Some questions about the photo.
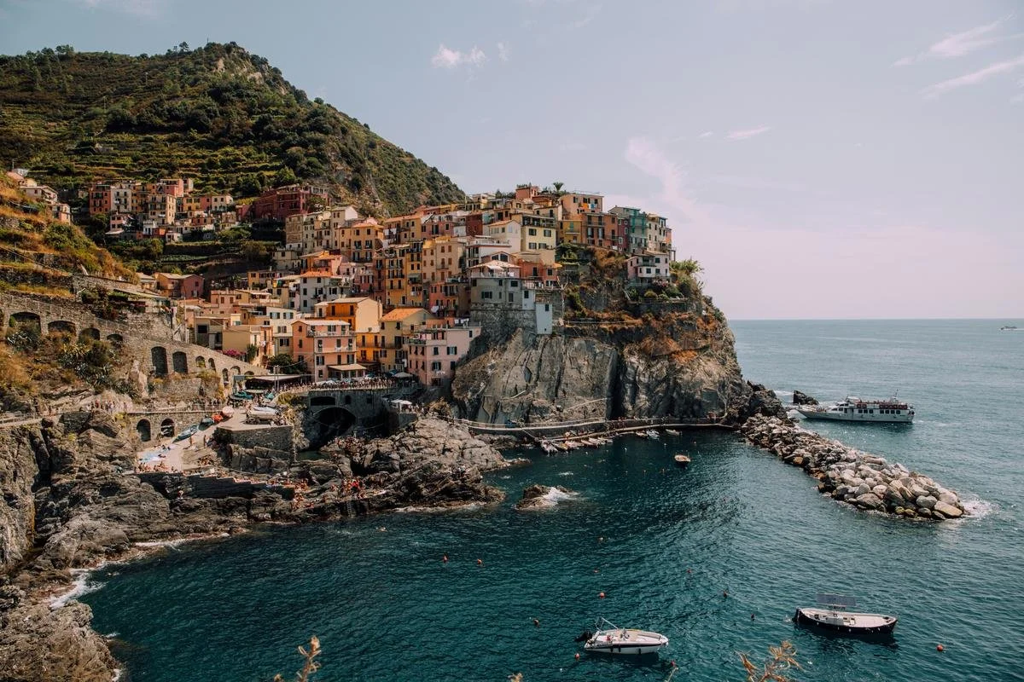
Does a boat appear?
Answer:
Yes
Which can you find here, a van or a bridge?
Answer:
bridge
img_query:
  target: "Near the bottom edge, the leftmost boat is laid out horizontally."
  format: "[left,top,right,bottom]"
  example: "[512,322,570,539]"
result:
[566,616,683,658]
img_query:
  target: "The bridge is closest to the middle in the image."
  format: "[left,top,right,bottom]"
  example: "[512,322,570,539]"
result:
[287,383,424,447]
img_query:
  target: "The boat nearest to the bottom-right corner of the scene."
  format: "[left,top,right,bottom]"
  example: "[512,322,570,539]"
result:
[796,585,915,639]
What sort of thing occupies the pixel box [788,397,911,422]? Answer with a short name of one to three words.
ship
